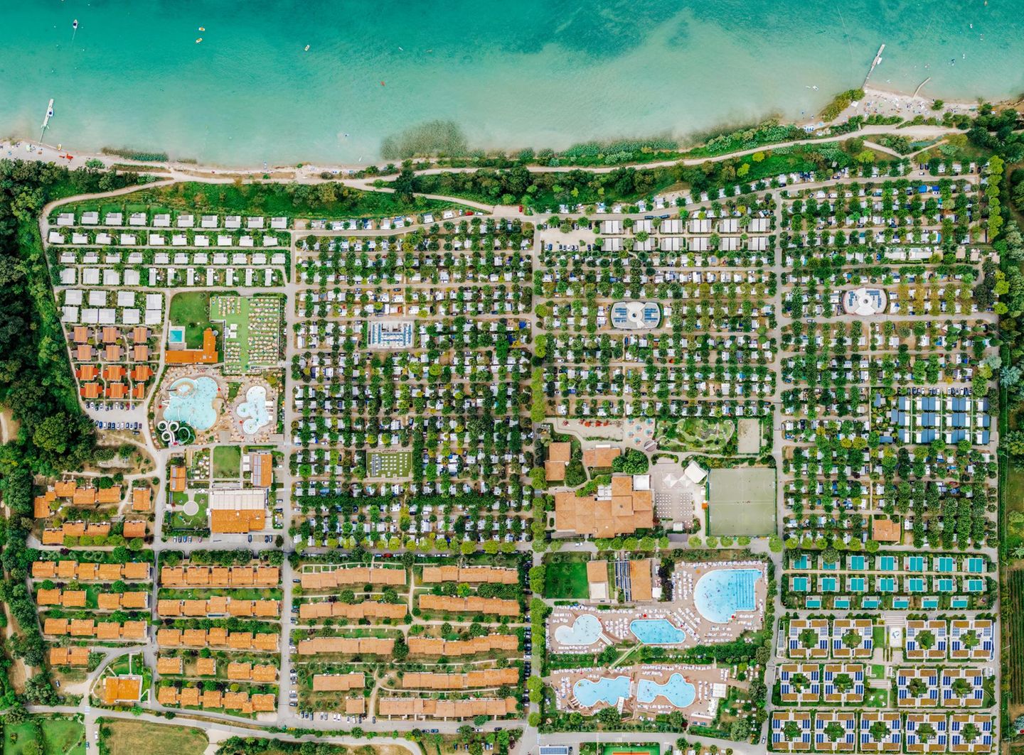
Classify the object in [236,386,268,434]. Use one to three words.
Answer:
swimming pool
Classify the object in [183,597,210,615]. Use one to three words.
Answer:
house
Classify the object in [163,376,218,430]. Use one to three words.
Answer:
swimming pool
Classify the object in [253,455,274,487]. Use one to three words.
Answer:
building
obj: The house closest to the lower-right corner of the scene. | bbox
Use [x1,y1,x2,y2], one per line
[948,712,992,753]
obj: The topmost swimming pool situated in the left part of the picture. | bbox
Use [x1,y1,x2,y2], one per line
[169,330,182,342]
